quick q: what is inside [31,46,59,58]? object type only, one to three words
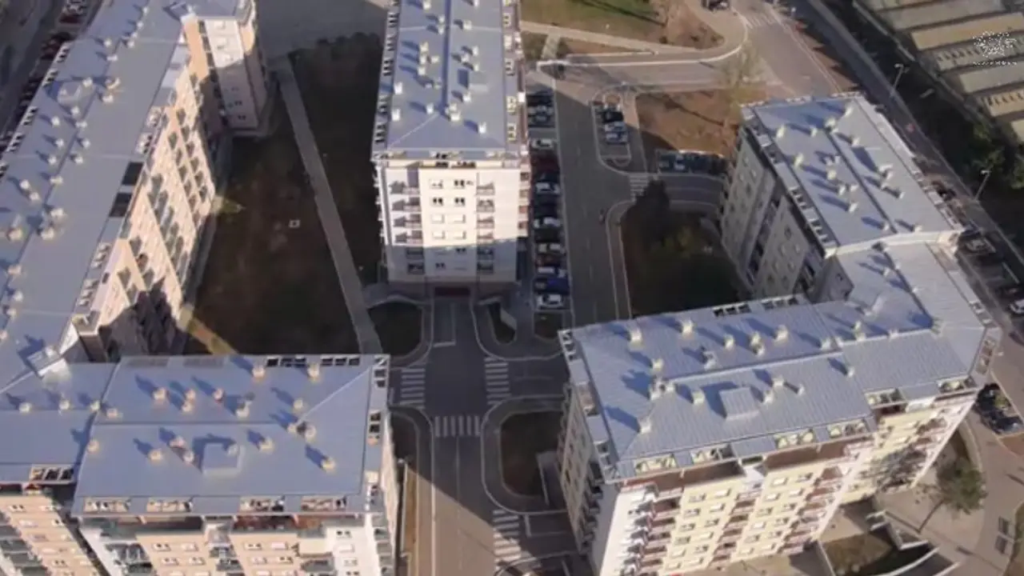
vehicle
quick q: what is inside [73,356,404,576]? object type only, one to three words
building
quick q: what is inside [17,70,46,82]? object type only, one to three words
vehicle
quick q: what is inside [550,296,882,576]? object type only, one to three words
building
